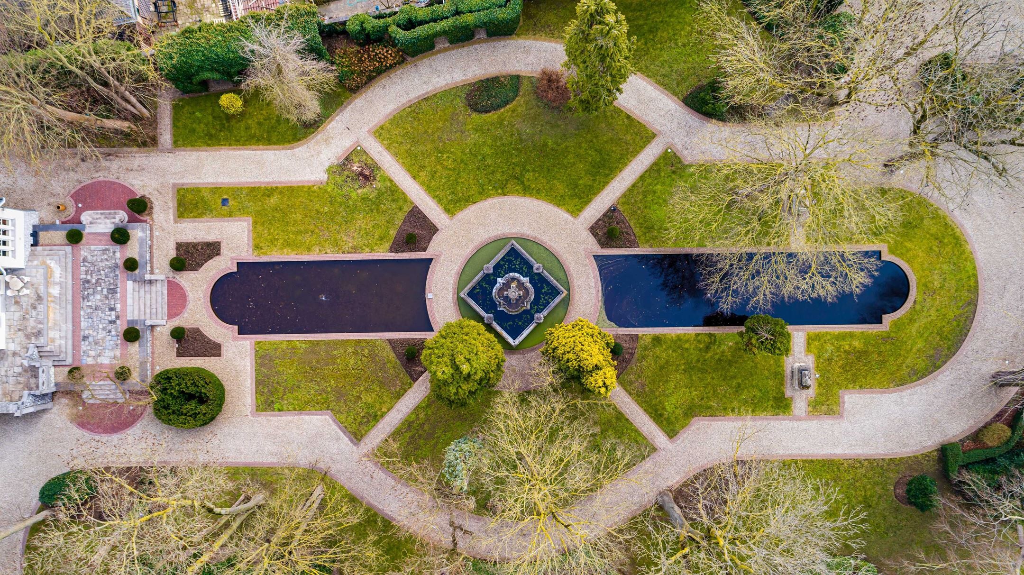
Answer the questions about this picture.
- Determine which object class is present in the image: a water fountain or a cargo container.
water fountain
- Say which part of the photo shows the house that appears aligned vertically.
left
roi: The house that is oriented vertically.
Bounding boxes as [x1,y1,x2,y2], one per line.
[0,196,37,276]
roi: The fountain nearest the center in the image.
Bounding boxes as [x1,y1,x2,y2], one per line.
[460,240,567,347]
